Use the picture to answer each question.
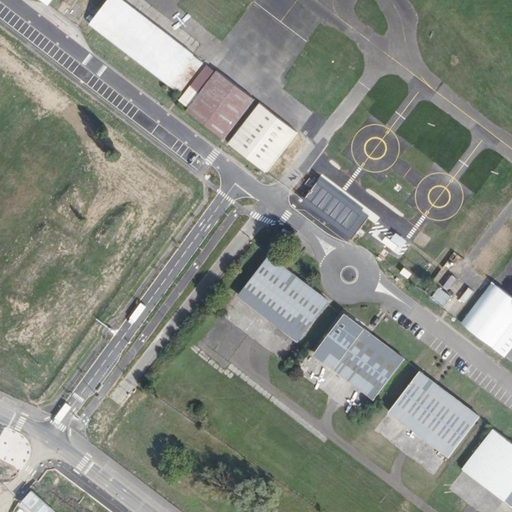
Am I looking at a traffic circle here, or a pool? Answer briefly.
traffic circle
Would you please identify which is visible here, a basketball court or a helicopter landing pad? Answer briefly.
helicopter landing pad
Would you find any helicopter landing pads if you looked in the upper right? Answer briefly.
Yes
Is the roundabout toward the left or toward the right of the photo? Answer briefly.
right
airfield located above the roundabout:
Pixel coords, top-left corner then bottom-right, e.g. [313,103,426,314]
[126,0,512,240]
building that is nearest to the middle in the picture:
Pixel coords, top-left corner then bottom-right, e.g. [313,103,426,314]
[240,258,324,336]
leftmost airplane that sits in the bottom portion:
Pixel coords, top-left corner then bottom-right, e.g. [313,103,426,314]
[310,368,325,390]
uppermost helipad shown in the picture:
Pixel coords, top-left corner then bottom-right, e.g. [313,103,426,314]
[350,92,419,172]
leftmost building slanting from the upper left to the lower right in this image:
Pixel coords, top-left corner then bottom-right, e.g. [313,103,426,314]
[89,0,204,92]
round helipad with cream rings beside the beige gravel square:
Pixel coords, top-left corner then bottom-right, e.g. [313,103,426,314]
[415,140,482,222]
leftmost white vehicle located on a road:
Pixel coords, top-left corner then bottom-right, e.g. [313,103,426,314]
[52,404,70,424]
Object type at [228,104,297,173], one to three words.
building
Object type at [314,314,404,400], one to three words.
hangar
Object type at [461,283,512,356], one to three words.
hangar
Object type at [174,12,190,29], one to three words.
airplane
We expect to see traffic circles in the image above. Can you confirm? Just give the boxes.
[314,234,409,307]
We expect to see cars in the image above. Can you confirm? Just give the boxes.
[306,176,315,186]
[372,316,380,326]
[460,364,470,374]
[84,12,93,23]
[403,318,412,328]
[398,314,408,324]
[416,328,425,339]
[19,484,28,495]
[187,152,196,162]
[394,310,402,320]
[456,358,465,369]
[410,322,420,333]
[441,349,450,360]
